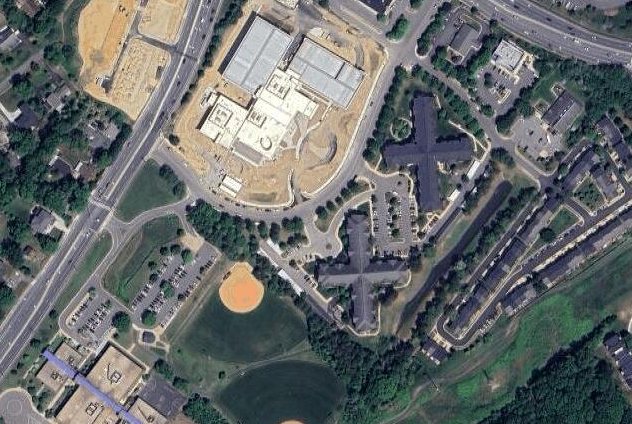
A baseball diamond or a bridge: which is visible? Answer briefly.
baseball diamond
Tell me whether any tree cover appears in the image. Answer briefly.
Yes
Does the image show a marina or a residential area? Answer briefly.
residential area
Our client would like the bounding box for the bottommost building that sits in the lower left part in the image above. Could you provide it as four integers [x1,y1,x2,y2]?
[34,344,165,424]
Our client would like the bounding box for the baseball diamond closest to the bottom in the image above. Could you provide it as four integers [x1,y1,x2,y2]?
[219,360,346,424]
